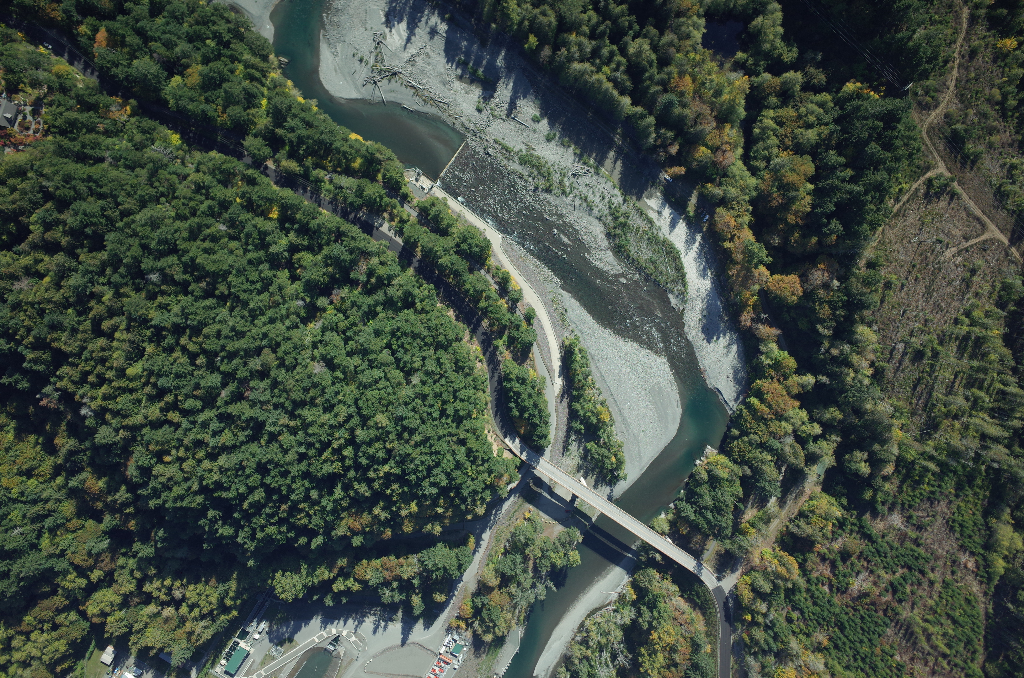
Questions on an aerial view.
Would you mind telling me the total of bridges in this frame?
1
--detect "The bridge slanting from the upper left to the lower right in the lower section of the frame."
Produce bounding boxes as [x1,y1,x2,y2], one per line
[507,435,722,591]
